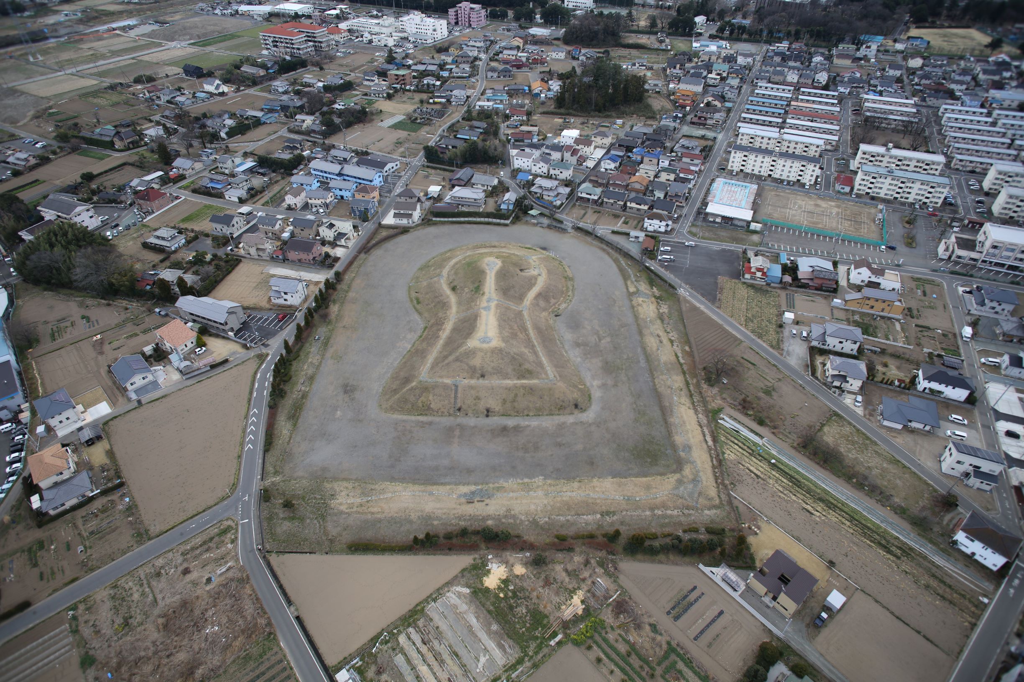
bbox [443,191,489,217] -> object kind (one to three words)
house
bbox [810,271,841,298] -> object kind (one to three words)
house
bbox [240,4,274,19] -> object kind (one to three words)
building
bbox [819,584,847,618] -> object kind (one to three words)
shed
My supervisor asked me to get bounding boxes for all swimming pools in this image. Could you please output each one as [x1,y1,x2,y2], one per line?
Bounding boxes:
[714,180,750,208]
